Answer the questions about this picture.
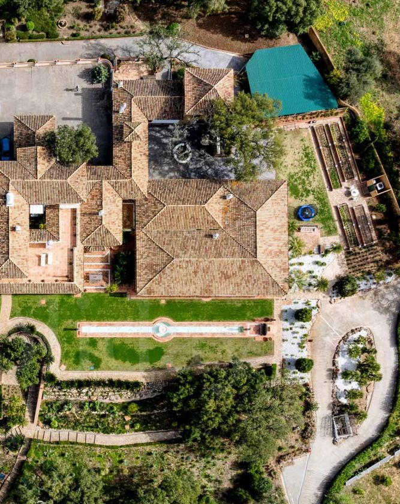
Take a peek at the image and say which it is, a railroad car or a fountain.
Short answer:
fountain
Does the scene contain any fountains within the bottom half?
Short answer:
Yes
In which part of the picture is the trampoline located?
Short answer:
right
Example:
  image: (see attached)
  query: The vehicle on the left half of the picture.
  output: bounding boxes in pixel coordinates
[0,135,13,161]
